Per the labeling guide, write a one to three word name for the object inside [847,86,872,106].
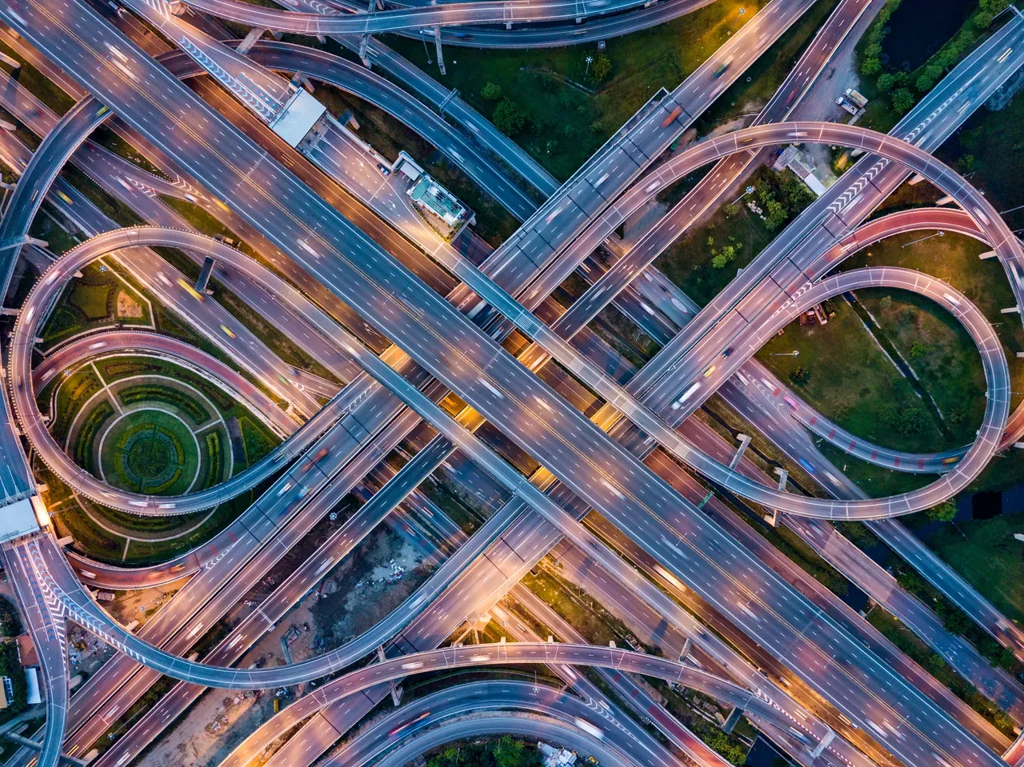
vehicle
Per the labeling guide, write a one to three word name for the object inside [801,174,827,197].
shed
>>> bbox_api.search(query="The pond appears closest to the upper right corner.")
[882,0,973,69]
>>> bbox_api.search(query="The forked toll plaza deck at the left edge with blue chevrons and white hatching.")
[0,481,146,689]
